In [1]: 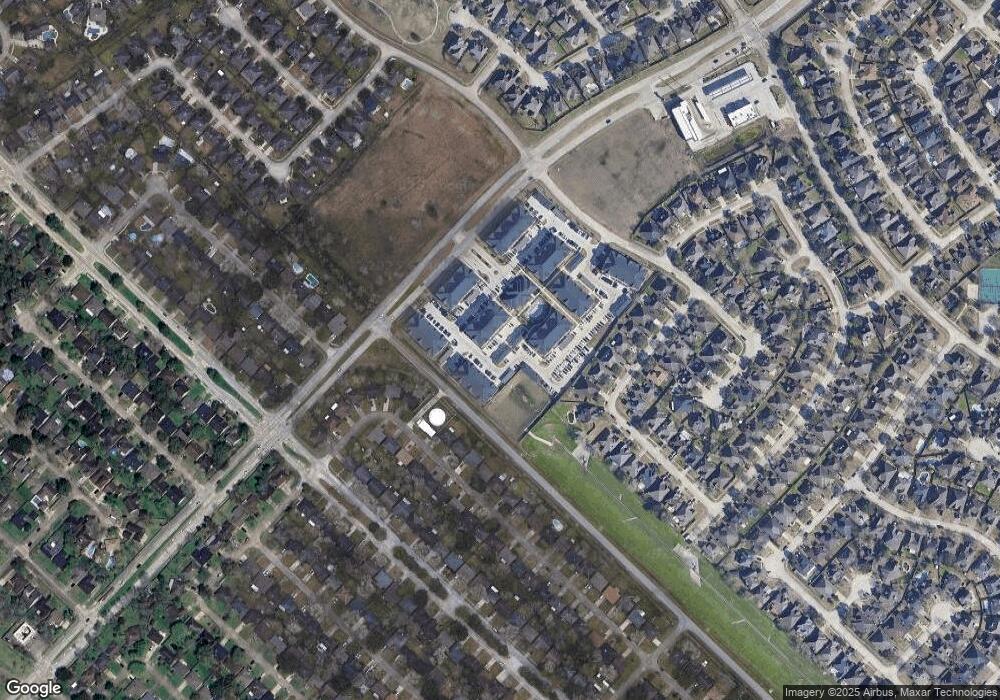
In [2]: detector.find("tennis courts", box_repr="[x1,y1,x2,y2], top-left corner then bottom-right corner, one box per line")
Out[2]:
[978,268,1000,303]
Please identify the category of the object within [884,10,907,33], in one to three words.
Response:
house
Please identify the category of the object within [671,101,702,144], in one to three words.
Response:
building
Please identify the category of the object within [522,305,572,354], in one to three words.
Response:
building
